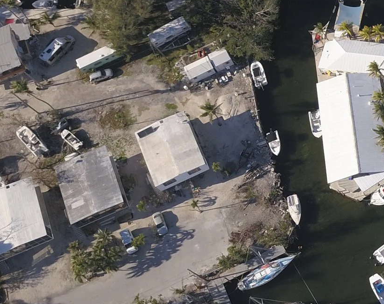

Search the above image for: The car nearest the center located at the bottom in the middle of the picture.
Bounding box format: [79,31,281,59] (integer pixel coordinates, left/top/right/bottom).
[153,211,170,237]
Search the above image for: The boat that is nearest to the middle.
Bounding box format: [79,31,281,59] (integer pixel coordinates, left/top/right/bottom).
[265,129,281,155]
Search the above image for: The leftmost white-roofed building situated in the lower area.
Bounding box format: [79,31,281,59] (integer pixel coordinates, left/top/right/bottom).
[0,178,61,273]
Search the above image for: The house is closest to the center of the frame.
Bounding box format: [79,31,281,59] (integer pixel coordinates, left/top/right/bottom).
[136,112,213,195]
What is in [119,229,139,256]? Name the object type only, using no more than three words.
car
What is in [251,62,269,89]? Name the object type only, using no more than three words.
boat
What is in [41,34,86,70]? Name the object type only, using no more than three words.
camper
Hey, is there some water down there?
Yes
